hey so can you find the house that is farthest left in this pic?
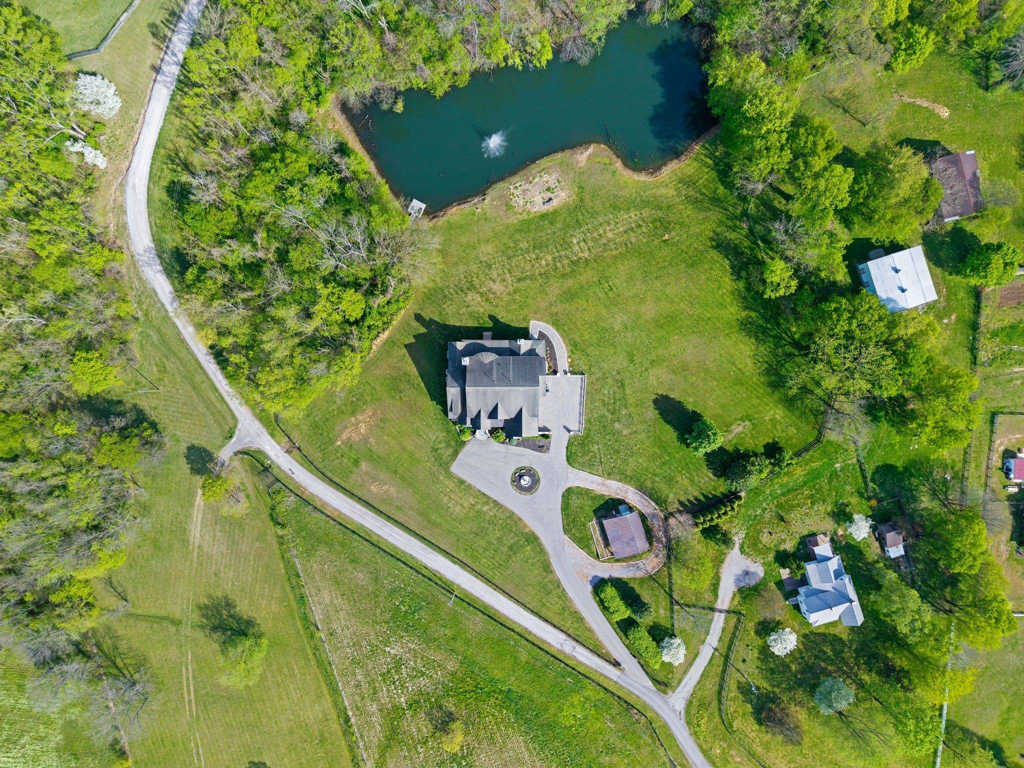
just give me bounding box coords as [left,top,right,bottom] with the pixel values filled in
[445,339,547,439]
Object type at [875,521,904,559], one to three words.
shed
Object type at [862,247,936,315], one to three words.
barn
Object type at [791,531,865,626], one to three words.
house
